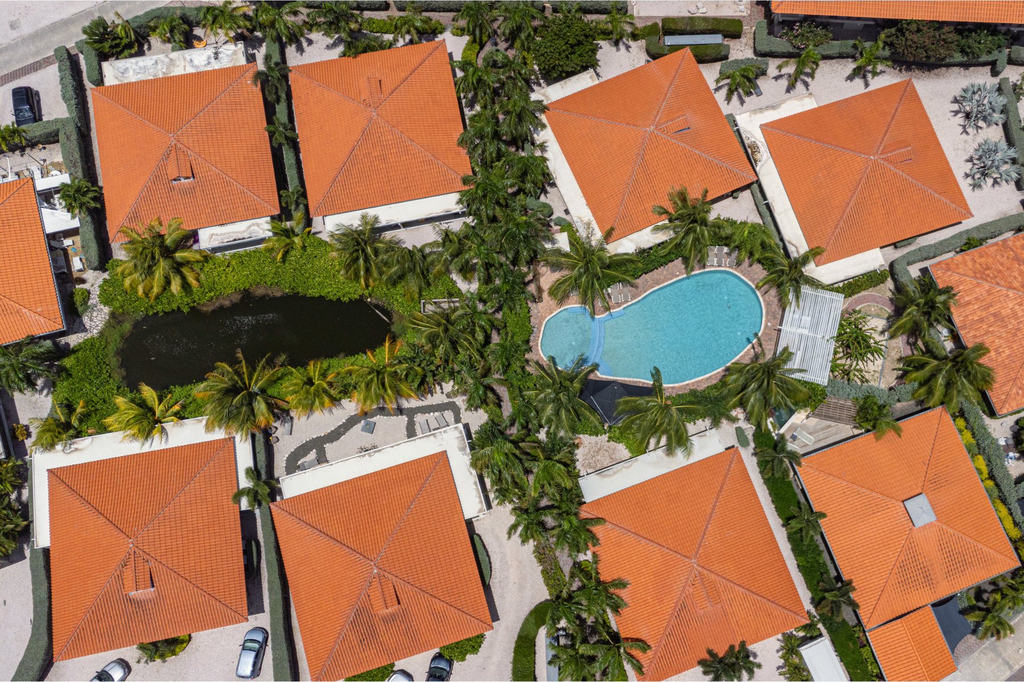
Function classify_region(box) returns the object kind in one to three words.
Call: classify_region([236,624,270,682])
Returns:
car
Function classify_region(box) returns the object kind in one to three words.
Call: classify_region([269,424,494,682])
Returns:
house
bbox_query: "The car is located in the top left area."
[10,84,40,127]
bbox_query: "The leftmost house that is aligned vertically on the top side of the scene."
[0,175,71,343]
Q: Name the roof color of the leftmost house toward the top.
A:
orange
